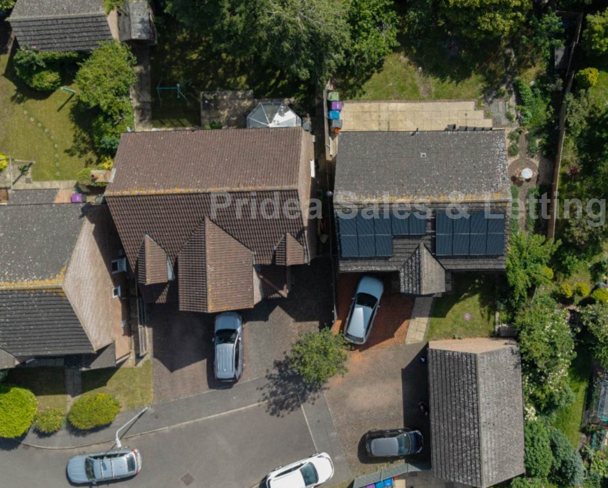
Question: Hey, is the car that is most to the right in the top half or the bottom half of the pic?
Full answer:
You can find the car that is most to the right in the bottom half.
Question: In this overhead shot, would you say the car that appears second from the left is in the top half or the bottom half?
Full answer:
You can find the car that appears second from the left in the bottom half.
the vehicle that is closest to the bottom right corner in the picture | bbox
[365,426,424,460]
